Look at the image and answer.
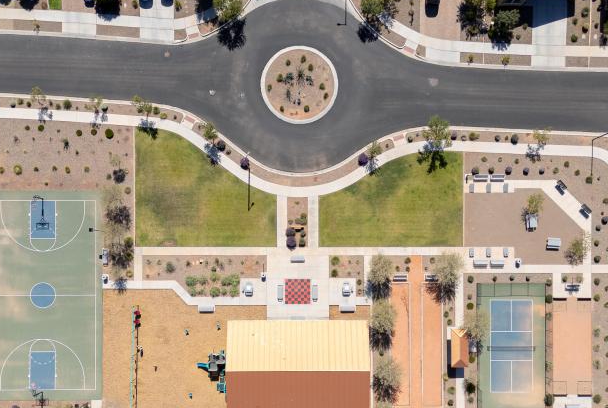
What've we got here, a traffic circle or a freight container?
traffic circle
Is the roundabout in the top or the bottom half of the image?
top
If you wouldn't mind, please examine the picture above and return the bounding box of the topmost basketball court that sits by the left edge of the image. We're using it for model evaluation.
[0,190,102,401]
